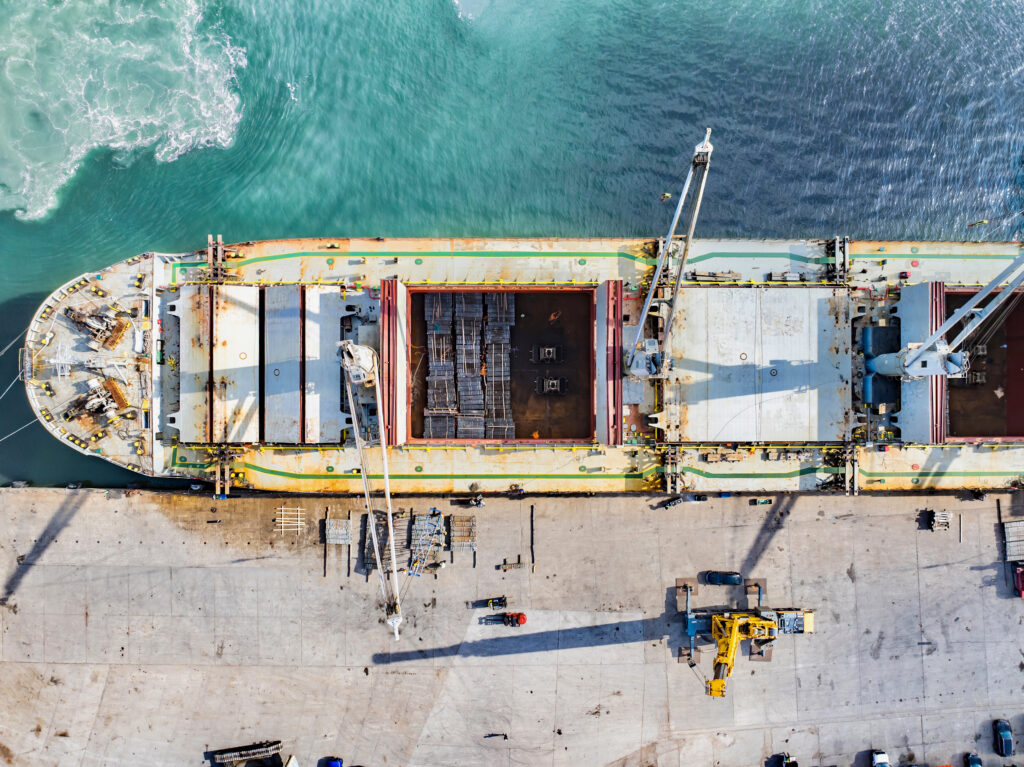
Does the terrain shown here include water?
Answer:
Yes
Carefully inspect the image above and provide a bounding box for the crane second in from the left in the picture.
[622,128,712,383]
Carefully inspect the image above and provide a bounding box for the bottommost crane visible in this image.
[679,581,813,697]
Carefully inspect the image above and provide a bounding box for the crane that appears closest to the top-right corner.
[851,260,1024,384]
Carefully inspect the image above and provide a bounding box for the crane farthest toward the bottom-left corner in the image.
[328,340,404,642]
